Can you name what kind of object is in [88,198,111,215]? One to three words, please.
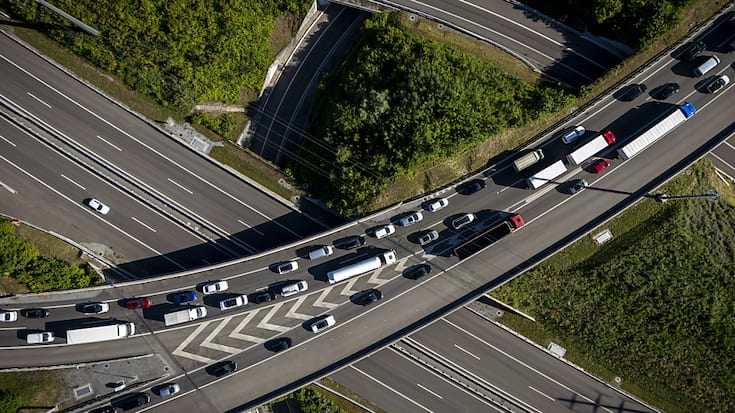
car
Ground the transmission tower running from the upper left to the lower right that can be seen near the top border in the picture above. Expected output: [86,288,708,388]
[40,0,103,38]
